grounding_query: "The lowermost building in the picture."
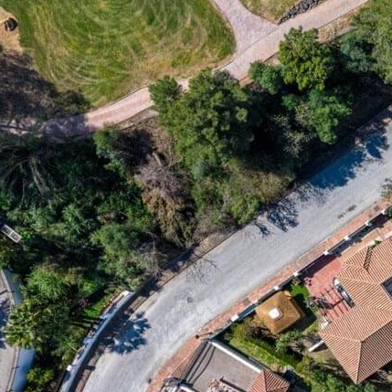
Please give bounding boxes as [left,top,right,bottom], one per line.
[180,337,293,392]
